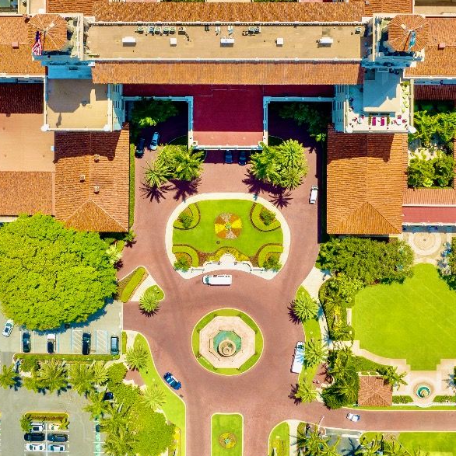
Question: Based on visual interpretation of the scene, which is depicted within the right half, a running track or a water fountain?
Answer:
water fountain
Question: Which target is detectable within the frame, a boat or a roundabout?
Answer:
roundabout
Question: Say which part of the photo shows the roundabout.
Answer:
bottom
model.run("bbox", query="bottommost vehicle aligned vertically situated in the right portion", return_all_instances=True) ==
[291,339,306,373]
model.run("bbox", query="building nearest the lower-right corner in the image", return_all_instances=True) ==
[358,373,393,407]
